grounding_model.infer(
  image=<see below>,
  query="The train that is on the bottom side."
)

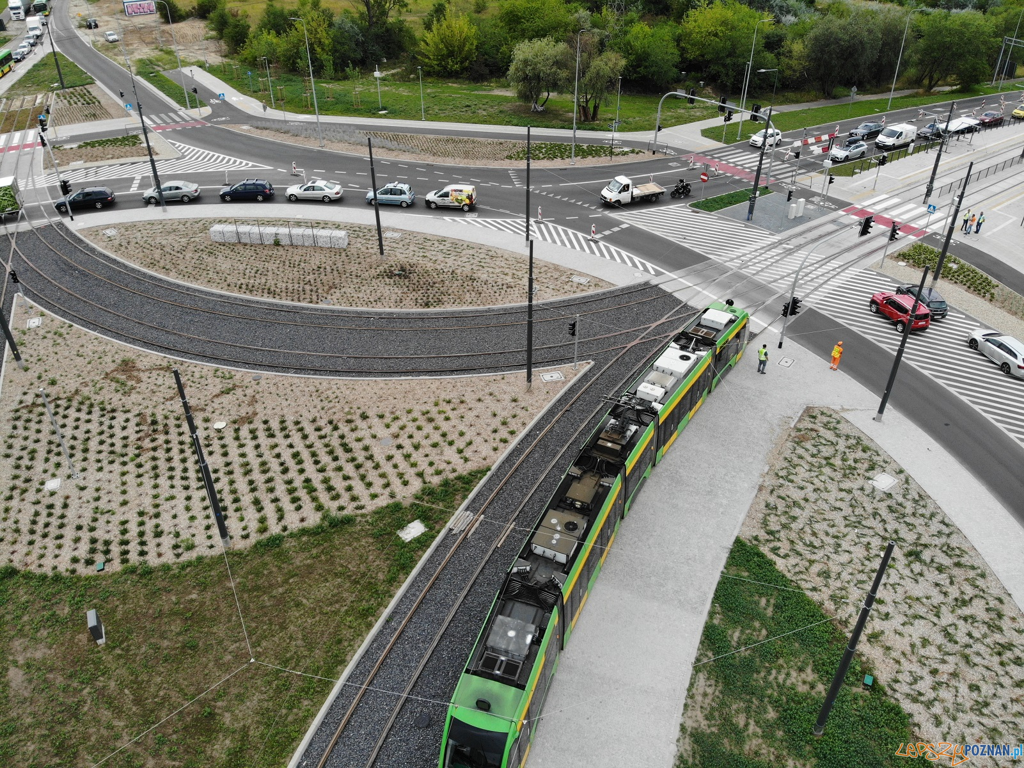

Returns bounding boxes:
[444,289,757,768]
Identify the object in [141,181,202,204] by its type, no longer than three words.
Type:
car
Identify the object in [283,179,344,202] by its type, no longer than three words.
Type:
car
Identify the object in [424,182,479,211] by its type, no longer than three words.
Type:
van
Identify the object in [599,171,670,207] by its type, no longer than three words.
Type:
truck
